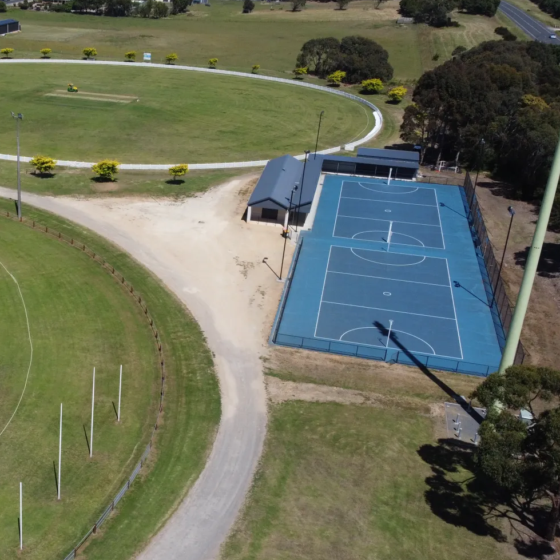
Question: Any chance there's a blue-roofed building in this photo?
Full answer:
Yes, I can see a blue-roofed building in this picture.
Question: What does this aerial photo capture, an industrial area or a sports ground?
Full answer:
The picture captures a sports ground.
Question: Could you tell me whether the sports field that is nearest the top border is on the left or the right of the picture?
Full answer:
You can find the sports field that is nearest the top border on the left side of the picture.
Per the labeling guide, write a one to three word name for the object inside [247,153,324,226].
building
